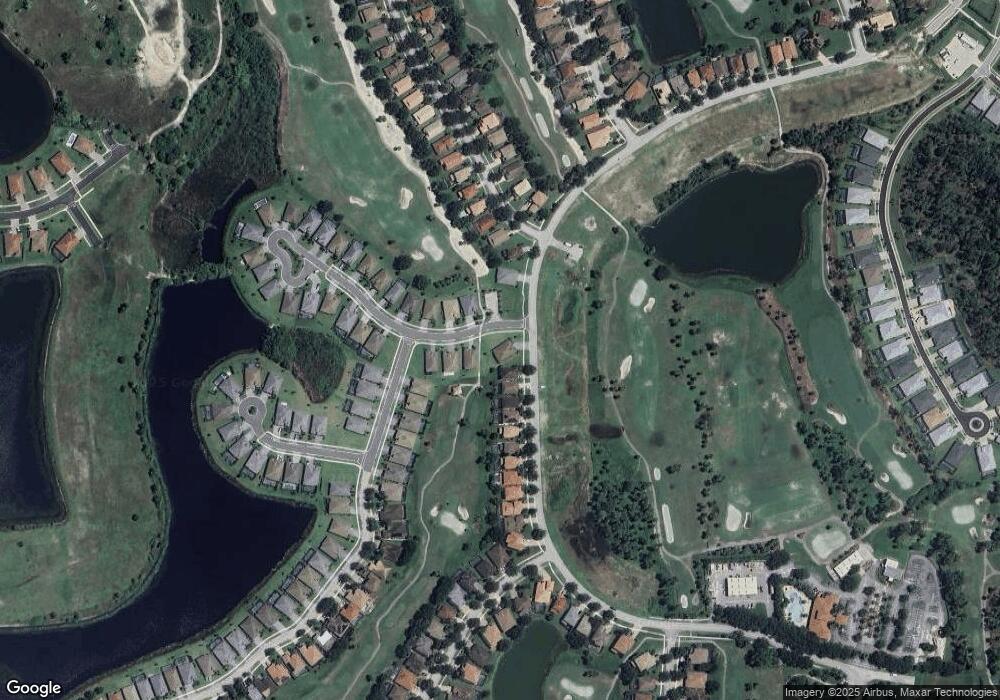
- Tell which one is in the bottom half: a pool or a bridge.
pool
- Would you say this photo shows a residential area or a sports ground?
residential area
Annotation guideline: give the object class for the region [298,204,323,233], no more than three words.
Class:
house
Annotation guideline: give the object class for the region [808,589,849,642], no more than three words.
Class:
building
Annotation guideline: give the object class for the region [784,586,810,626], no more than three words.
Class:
swimming pool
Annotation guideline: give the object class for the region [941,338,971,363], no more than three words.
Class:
house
